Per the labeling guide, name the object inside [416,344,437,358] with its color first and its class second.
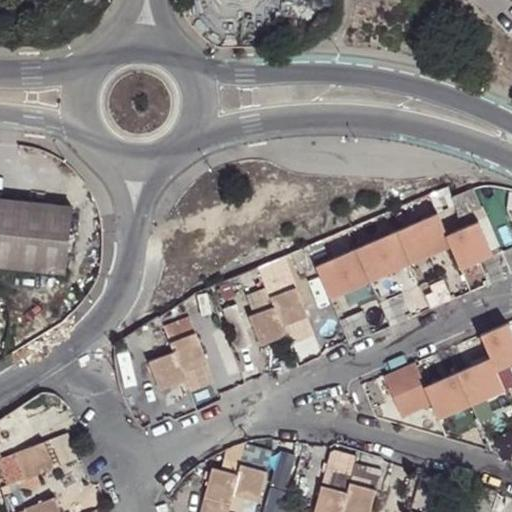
white vehicle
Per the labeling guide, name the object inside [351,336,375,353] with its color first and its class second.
white car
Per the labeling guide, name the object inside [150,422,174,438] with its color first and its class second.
white vehicle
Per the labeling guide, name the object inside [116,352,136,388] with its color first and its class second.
white camper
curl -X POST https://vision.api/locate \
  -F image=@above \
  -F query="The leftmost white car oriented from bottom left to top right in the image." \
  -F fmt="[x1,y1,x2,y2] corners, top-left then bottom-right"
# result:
[80,406,96,424]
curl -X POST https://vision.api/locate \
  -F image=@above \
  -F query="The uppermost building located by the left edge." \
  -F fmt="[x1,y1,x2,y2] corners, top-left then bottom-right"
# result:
[0,190,72,276]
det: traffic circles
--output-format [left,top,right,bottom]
[80,43,200,163]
